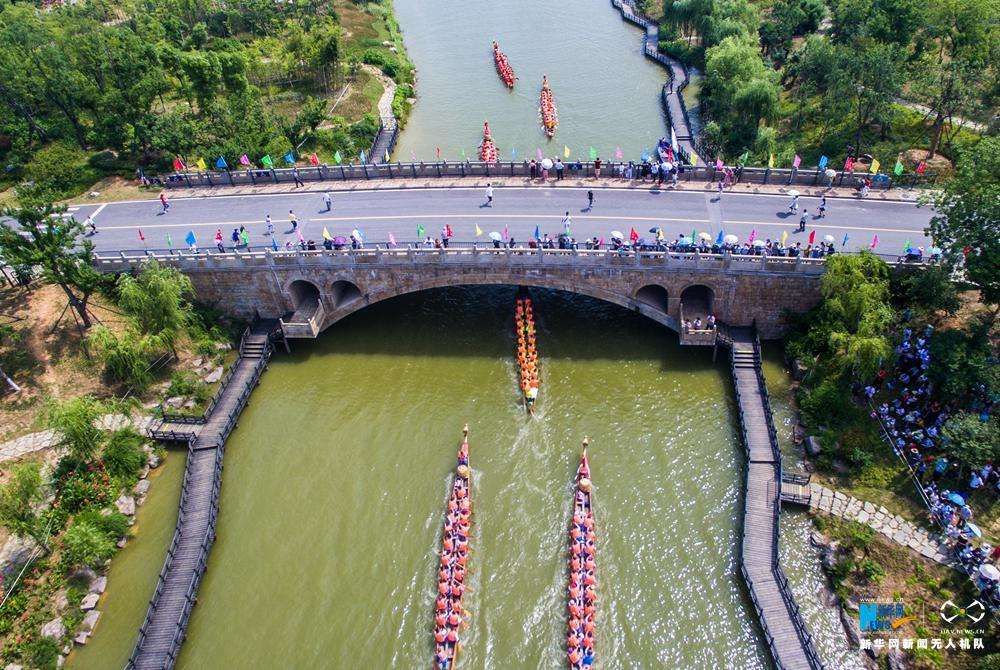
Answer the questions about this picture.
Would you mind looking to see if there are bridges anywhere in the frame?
Yes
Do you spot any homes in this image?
No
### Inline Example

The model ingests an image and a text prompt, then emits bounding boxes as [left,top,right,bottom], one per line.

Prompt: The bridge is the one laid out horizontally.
[40,164,997,338]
